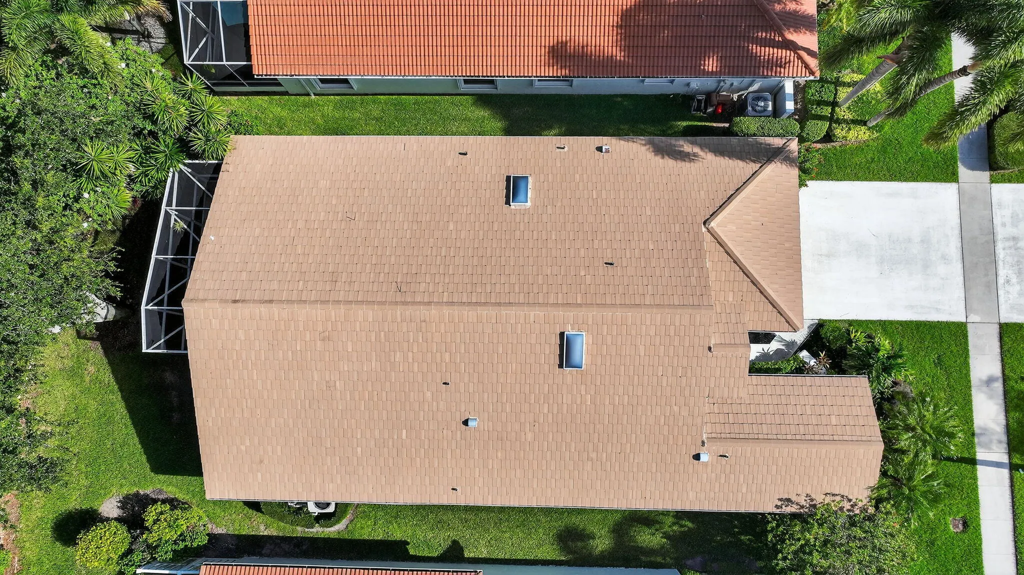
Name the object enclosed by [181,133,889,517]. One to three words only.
house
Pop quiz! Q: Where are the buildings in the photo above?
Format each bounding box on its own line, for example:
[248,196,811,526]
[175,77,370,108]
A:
[181,133,889,517]
[197,557,484,575]
[243,0,823,99]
